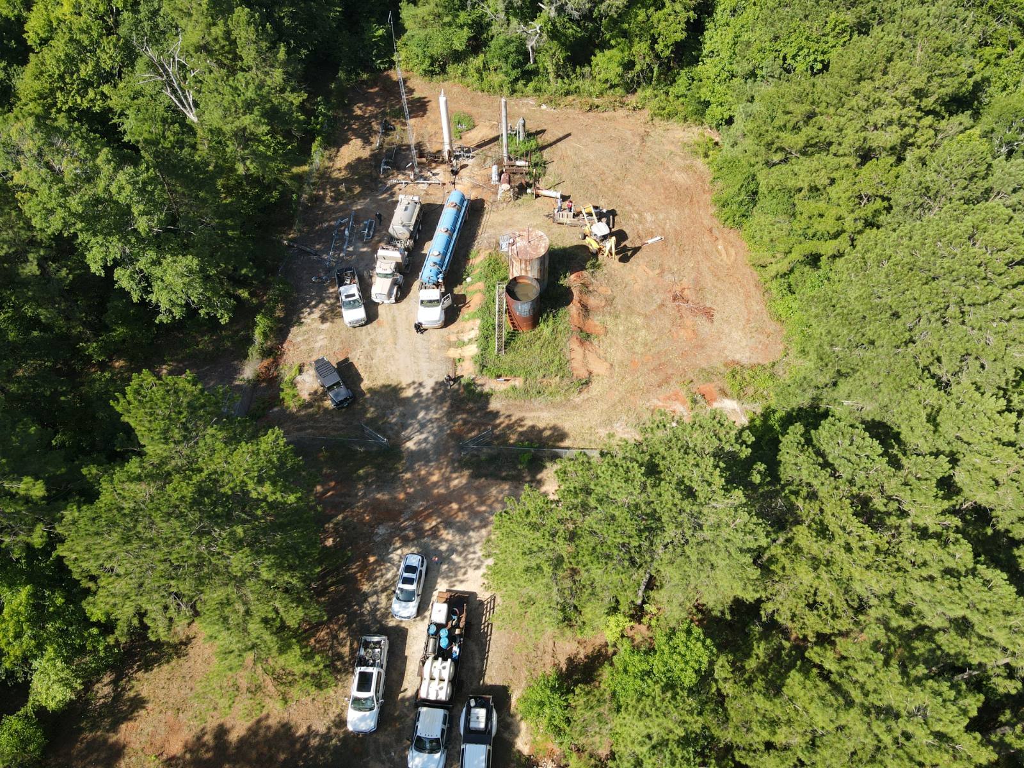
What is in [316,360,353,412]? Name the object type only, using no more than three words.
car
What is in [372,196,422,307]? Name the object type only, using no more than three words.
truck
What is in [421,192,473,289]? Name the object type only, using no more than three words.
trailer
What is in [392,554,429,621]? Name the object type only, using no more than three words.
car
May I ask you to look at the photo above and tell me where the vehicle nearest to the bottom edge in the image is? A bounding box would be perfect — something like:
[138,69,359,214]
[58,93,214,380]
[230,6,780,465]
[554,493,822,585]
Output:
[462,695,500,768]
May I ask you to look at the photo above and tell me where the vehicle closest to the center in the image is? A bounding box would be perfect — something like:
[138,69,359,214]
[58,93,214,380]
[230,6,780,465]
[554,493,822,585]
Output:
[415,276,452,332]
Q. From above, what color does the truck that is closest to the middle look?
white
